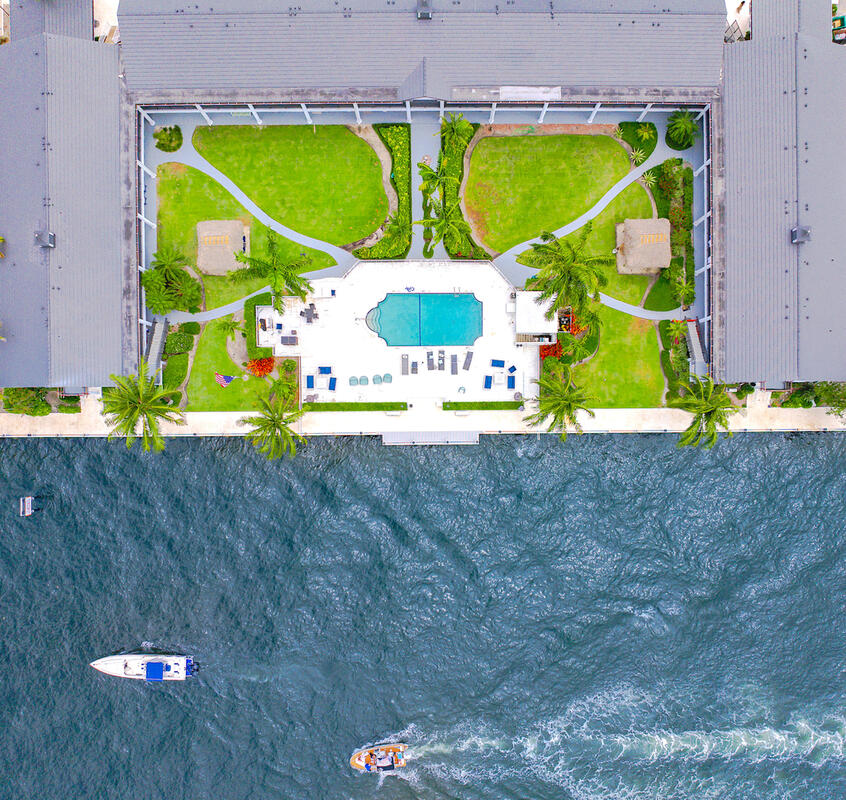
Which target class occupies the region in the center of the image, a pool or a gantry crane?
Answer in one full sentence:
It is a pool that can be seen in the center of the image.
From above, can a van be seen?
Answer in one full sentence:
No, I can see no van in this picture.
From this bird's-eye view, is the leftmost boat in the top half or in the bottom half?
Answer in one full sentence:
The leftmost boat sits in the bottom half of the picture.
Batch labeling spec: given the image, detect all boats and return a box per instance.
[90,652,199,681]
[350,742,412,773]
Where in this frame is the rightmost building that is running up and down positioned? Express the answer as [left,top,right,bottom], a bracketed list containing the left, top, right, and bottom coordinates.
[692,31,846,382]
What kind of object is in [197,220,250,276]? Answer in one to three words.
shed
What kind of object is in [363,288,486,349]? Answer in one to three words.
swimming pool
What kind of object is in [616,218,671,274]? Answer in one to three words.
shed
